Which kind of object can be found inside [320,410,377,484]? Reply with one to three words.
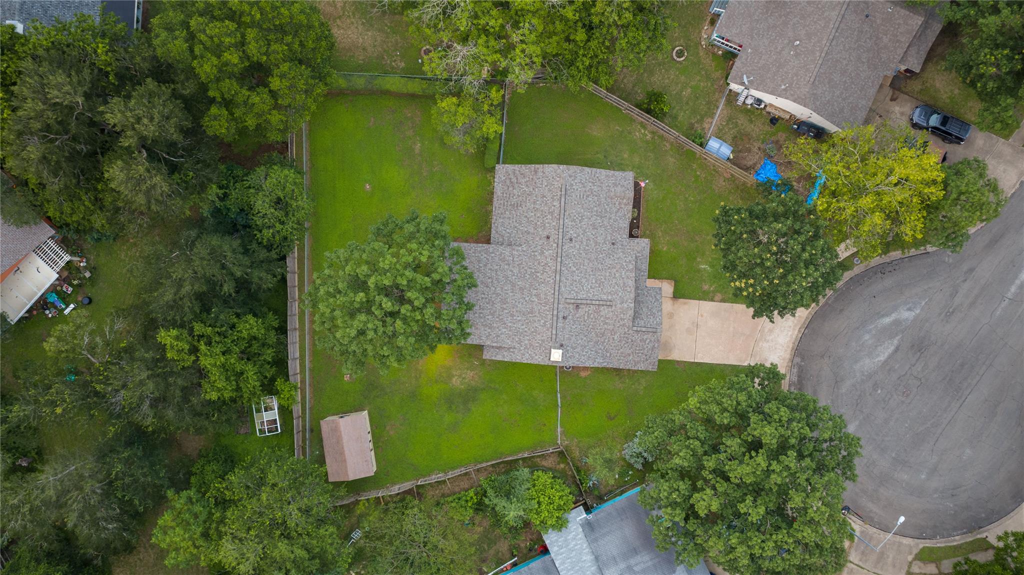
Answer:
shed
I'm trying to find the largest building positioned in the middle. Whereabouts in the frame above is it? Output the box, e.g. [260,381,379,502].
[449,165,662,371]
